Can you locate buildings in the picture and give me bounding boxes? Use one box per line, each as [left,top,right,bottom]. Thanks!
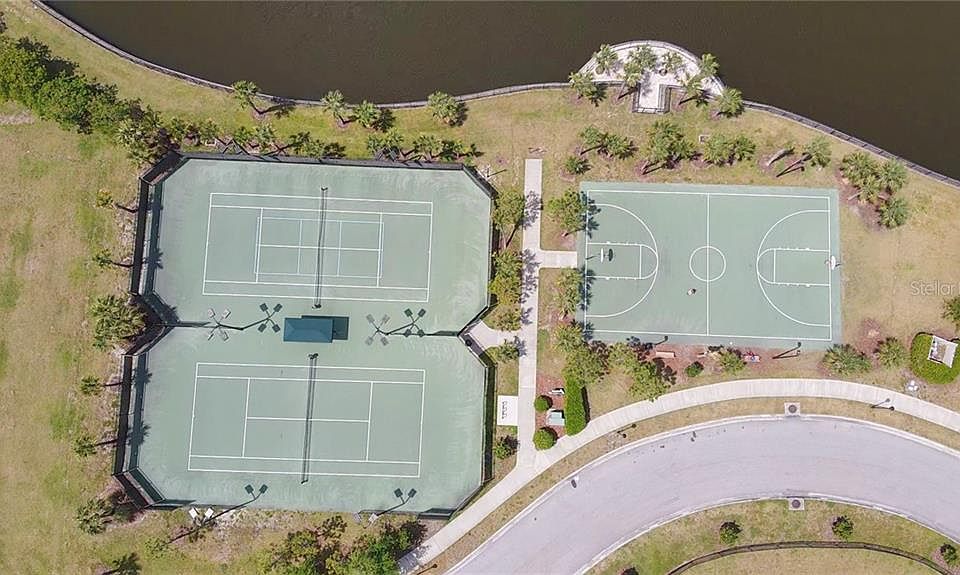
[283,318,335,343]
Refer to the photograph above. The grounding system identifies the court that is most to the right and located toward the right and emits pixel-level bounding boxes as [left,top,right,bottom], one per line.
[576,181,843,350]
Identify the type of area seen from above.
sports ground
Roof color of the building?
blue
